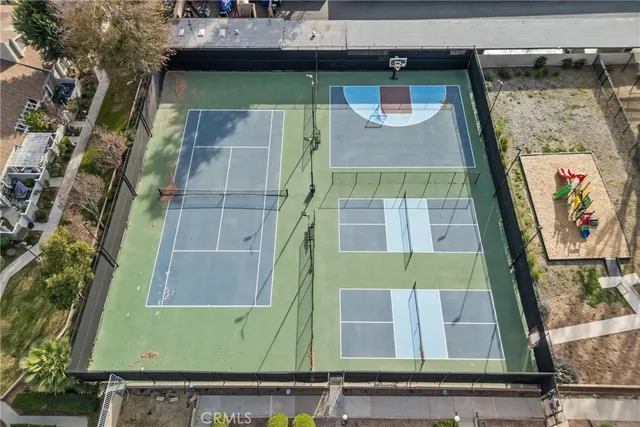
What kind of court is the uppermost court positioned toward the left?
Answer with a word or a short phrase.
tennis court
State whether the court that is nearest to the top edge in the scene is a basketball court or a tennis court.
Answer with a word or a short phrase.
basketball court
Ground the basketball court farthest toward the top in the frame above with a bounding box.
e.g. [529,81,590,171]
[329,85,476,168]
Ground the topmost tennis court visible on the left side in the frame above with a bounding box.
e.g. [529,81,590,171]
[146,109,284,307]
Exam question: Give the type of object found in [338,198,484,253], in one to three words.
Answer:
sports court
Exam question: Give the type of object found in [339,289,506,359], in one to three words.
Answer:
sports court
